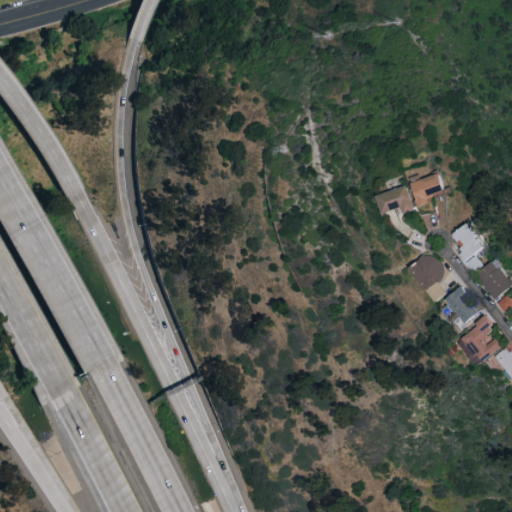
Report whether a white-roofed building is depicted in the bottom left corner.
No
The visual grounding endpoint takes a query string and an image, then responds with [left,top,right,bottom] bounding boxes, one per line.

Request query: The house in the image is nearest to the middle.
[375,186,413,215]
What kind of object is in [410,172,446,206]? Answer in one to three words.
house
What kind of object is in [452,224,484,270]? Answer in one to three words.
house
